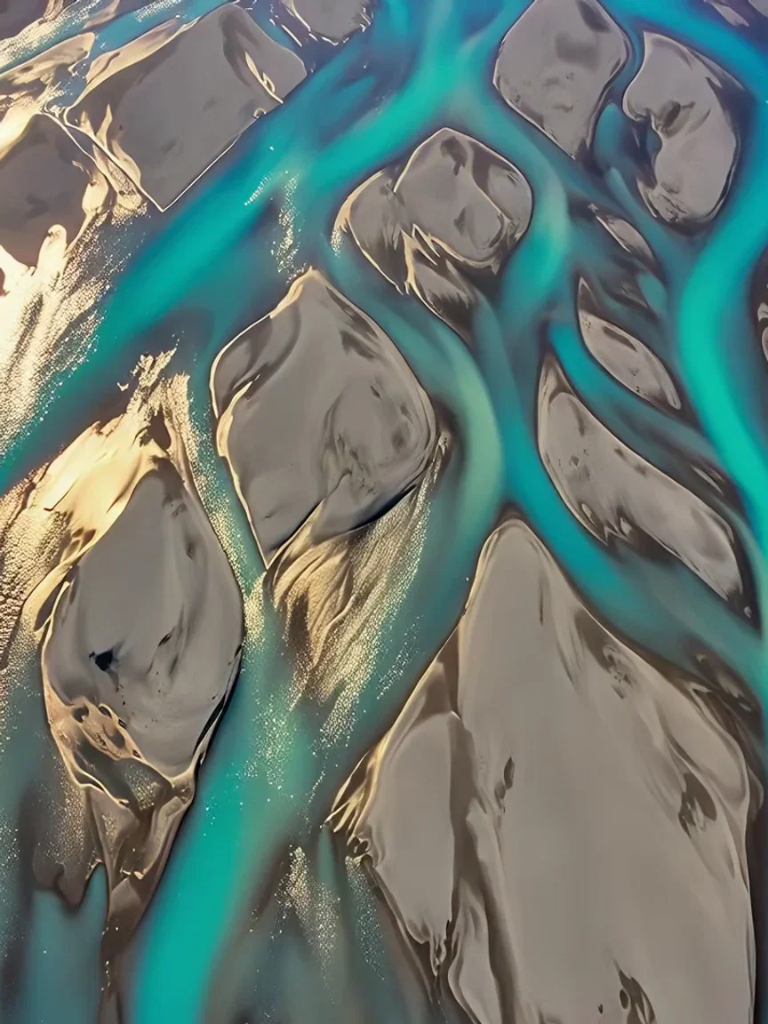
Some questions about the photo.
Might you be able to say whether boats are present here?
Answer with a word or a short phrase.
No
